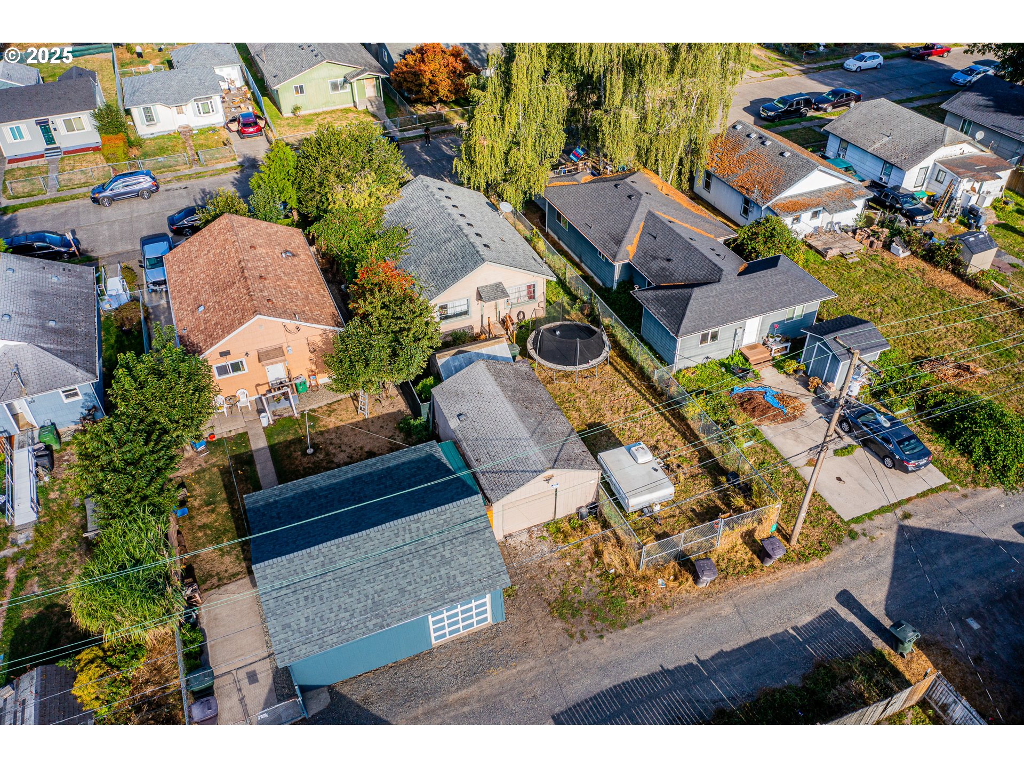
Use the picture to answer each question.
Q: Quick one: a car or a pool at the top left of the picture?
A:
car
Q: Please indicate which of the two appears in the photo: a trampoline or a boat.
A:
trampoline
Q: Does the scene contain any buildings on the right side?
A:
Yes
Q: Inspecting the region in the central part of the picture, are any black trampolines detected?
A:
Yes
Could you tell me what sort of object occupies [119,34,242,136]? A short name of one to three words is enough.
house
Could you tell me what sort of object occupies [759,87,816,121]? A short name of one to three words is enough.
car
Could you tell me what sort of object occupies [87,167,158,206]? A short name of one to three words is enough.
car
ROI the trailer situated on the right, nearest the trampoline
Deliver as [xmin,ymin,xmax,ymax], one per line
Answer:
[591,426,679,525]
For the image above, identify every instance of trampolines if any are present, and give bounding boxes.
[526,301,603,381]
